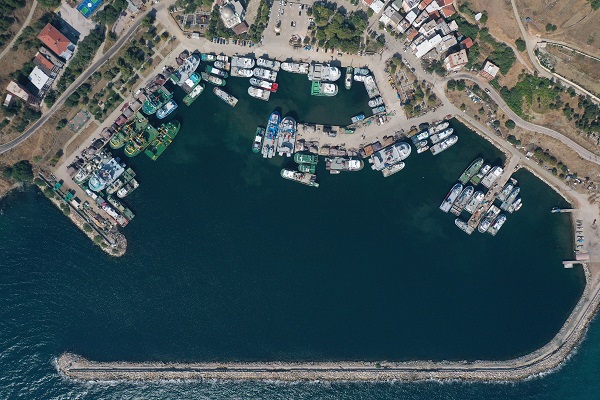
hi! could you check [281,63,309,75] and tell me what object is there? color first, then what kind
white boat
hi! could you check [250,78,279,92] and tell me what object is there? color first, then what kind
white boat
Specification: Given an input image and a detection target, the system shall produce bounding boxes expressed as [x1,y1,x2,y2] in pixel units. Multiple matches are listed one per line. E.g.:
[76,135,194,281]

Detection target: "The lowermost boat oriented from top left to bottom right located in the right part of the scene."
[455,218,474,235]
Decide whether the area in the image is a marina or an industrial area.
marina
